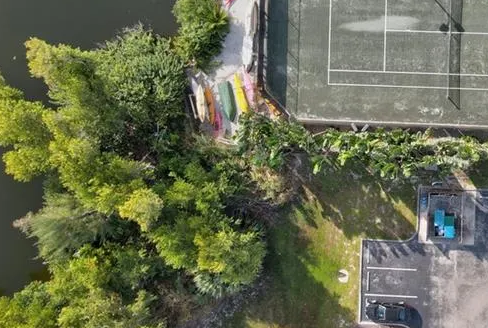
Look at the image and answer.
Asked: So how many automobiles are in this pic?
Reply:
1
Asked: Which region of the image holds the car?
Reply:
bottom right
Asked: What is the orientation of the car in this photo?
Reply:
from left to right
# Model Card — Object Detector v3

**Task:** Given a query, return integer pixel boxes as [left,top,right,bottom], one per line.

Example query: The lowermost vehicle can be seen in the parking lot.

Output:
[365,300,414,324]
